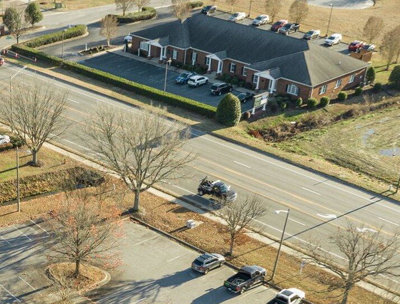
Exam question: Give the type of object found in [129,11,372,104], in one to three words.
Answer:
building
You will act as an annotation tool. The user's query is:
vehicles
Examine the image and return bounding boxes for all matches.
[324,32,343,45]
[199,3,217,13]
[236,91,254,102]
[251,12,270,25]
[303,28,320,39]
[207,80,232,95]
[173,73,192,84]
[189,253,225,274]
[264,288,308,304]
[278,20,301,32]
[193,171,236,202]
[118,35,131,45]
[269,20,286,30]
[222,266,267,293]
[185,74,208,87]
[361,41,378,51]
[346,39,364,50]
[227,11,245,20]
